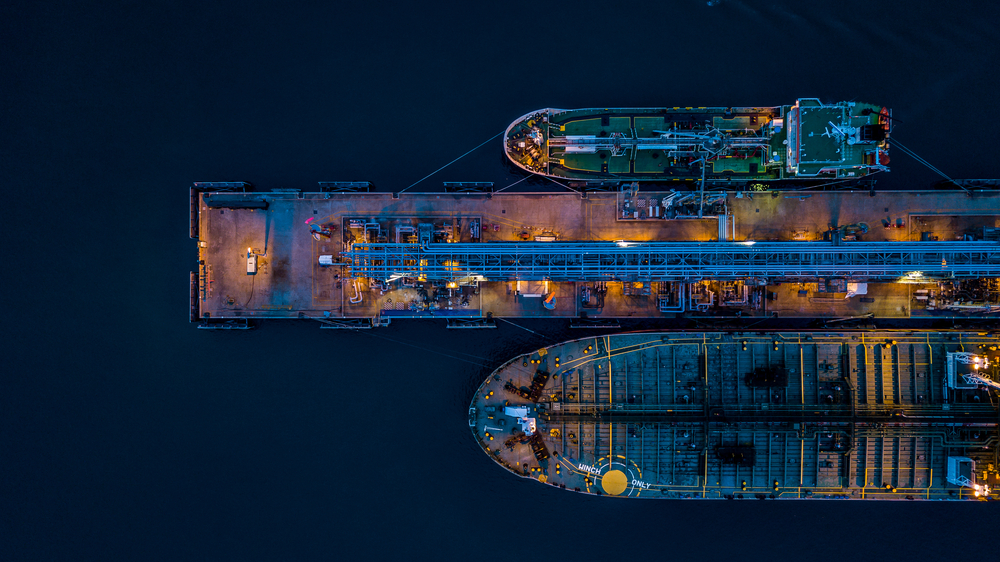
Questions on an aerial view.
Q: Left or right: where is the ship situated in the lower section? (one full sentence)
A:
It is on the right.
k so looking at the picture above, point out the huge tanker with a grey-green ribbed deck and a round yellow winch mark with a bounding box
[470,329,1000,501]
